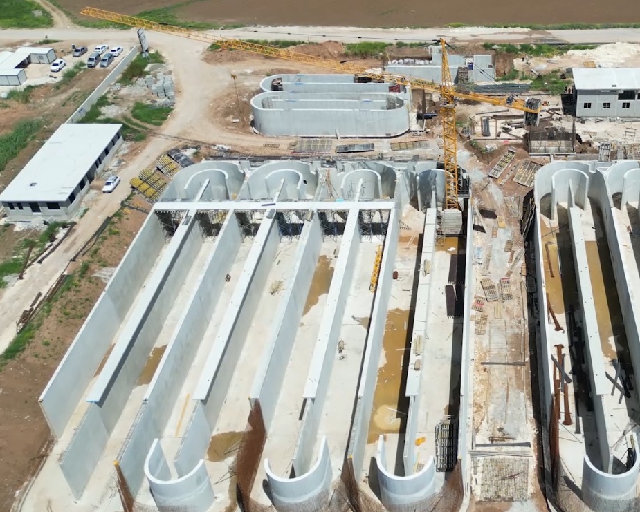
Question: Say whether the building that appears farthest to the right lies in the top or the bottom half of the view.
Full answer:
The top half of the photo is where the building that appears farthest to the right is.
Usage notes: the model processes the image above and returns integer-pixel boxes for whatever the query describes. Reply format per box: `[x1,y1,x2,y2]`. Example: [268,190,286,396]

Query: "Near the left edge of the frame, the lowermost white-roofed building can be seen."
[0,122,123,220]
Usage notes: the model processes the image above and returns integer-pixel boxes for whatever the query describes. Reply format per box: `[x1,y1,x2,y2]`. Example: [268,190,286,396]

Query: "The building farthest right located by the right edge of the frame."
[570,60,640,118]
